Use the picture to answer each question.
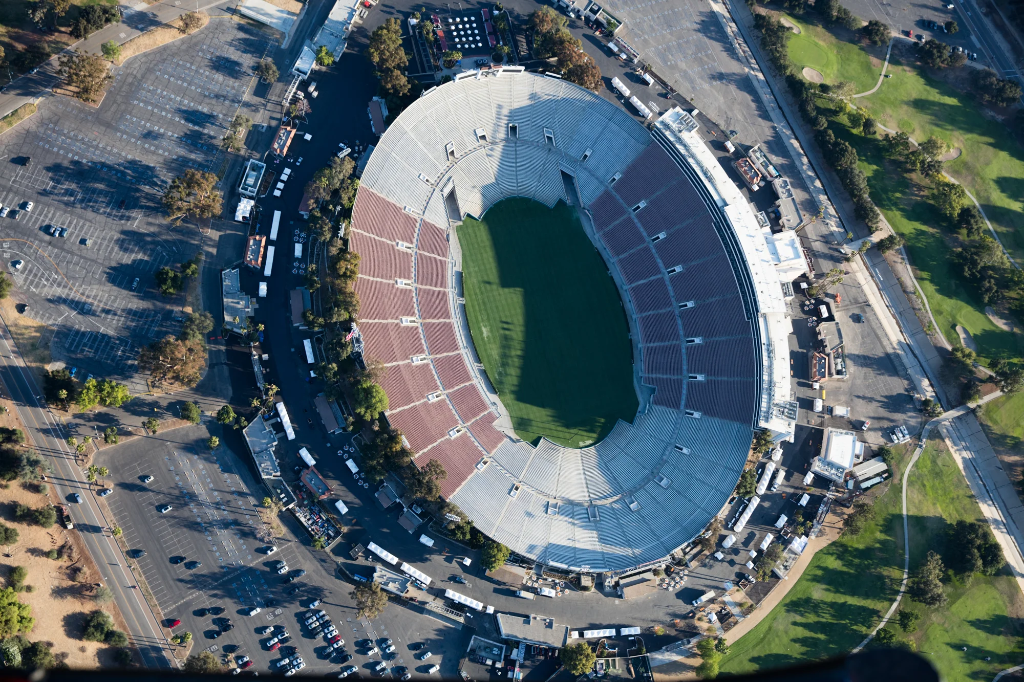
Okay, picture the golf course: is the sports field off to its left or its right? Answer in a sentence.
To the left of the golf course is where the sports field appears.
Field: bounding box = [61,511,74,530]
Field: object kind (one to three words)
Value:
vehicle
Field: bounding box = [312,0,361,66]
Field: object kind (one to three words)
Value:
building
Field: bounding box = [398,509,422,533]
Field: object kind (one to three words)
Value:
shed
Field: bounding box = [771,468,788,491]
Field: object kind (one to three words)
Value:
vehicle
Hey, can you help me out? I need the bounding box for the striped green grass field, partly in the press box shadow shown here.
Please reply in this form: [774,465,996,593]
[458,199,638,447]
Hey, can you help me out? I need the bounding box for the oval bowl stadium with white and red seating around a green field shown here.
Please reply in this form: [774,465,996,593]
[347,70,761,579]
